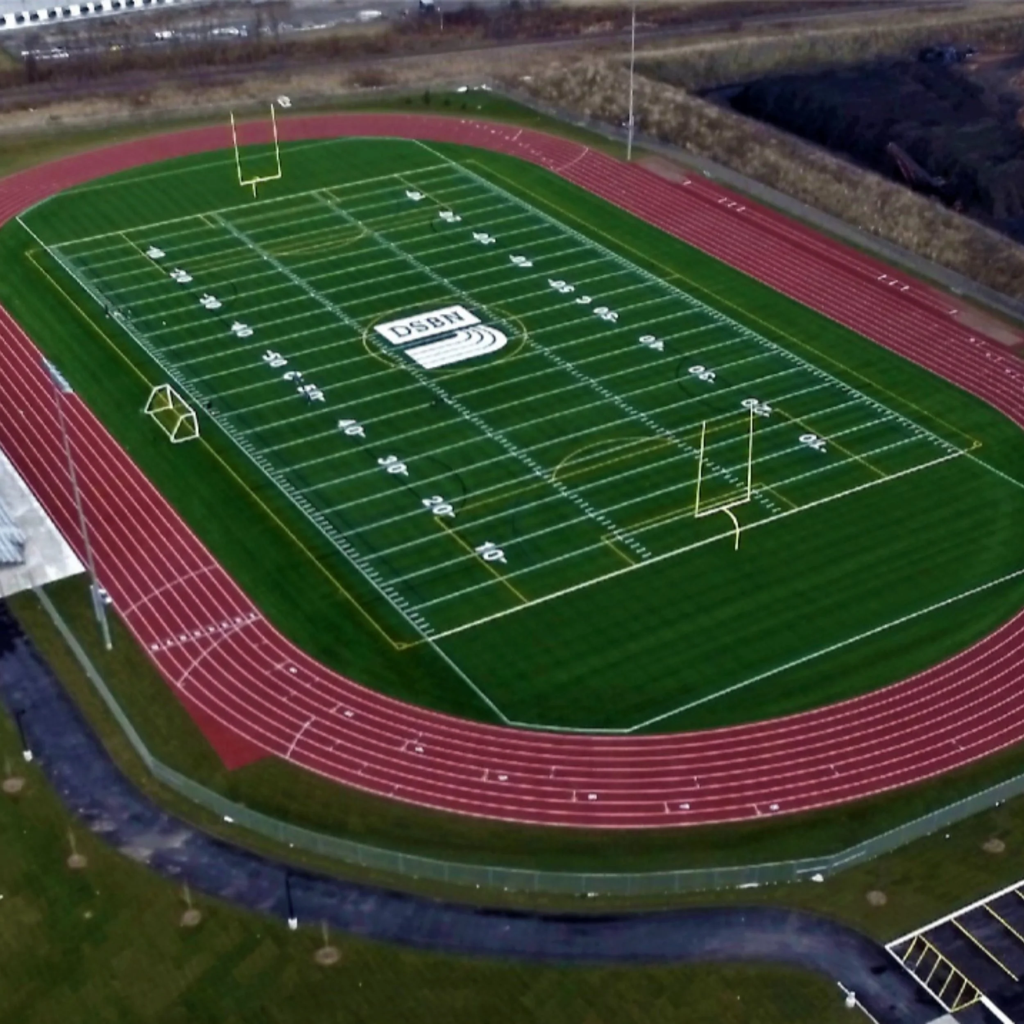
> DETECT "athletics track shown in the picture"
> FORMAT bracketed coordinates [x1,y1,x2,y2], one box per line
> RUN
[0,116,1024,825]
